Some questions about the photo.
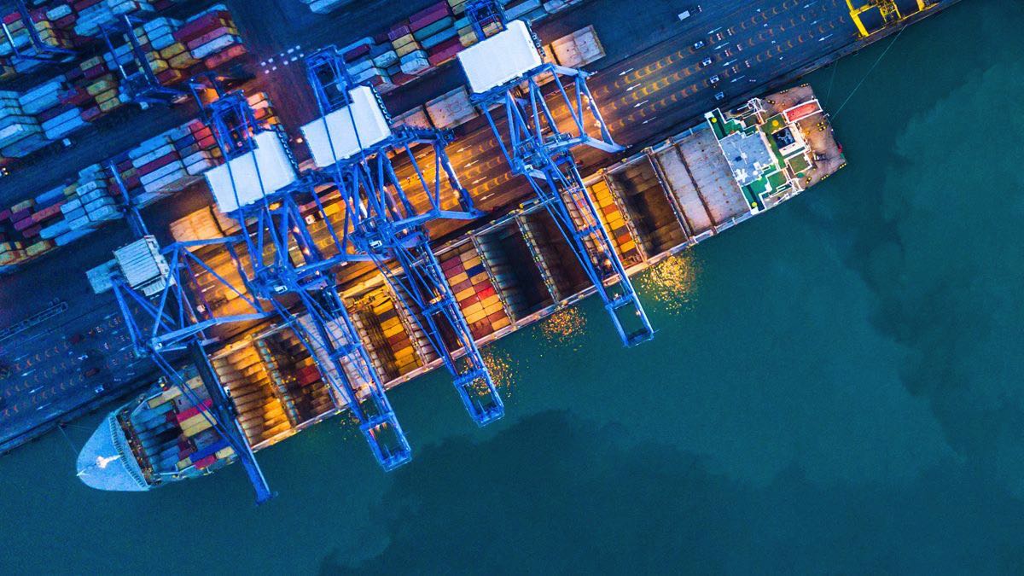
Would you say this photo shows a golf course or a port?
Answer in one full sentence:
The area seen from above is a port.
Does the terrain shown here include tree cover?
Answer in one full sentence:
No, there's no tree cover in this view.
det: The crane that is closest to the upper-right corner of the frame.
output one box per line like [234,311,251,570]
[845,0,940,42]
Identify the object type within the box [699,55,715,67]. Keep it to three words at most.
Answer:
vehicle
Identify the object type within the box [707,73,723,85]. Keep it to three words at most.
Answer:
vehicle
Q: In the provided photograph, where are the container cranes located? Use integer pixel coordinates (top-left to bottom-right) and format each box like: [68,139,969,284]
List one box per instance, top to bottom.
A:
[456,0,655,348]
[845,0,940,42]
[101,14,195,110]
[299,49,511,426]
[194,80,253,164]
[206,92,420,470]
[86,170,290,509]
